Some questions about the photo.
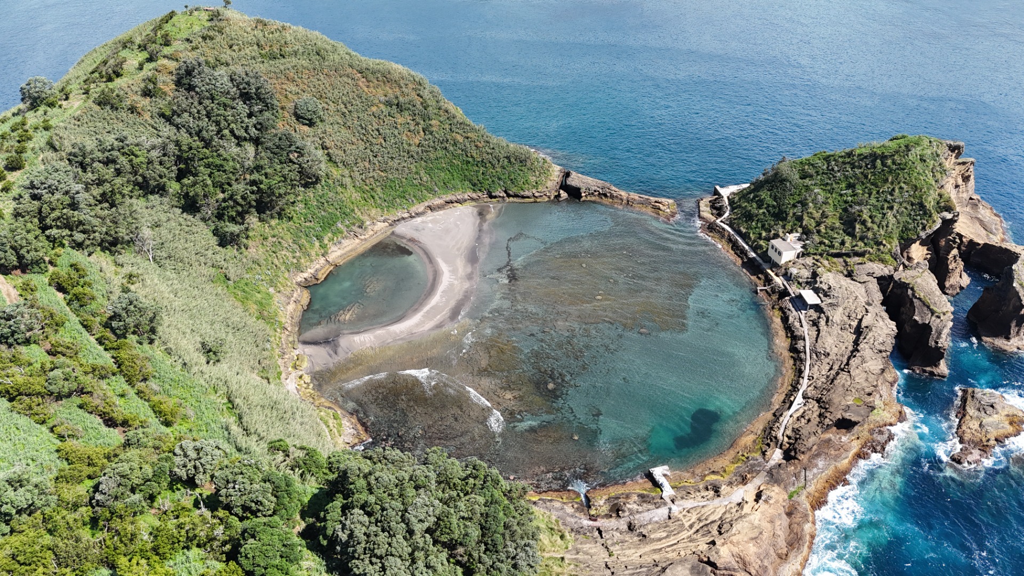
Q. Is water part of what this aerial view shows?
Yes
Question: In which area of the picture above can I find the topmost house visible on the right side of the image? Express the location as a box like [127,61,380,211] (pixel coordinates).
[767,231,805,265]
